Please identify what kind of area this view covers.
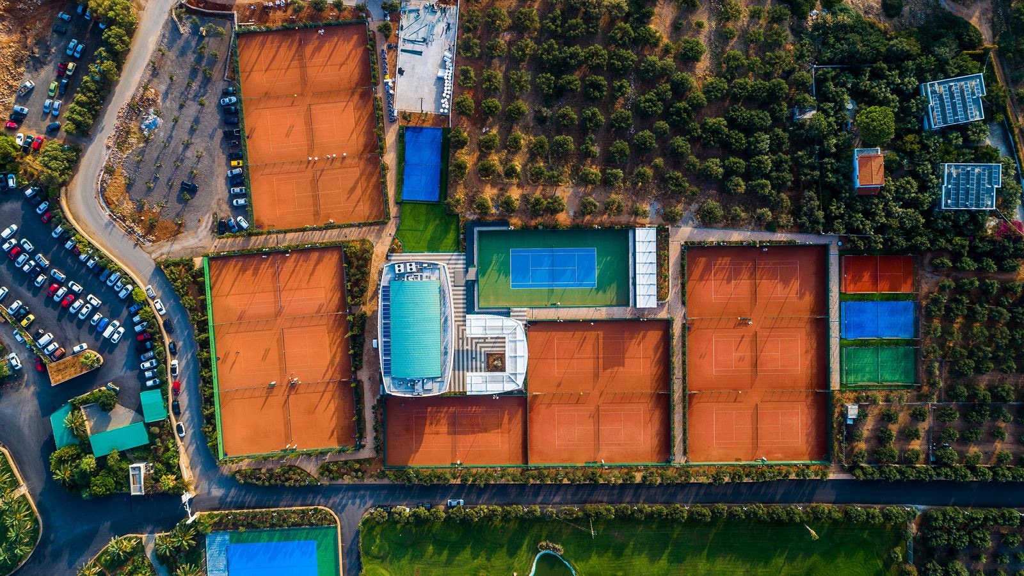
sports ground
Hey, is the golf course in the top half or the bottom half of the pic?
bottom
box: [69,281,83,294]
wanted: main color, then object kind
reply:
white vehicle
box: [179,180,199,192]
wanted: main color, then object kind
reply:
black vehicle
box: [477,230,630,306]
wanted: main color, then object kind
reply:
green tennis court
